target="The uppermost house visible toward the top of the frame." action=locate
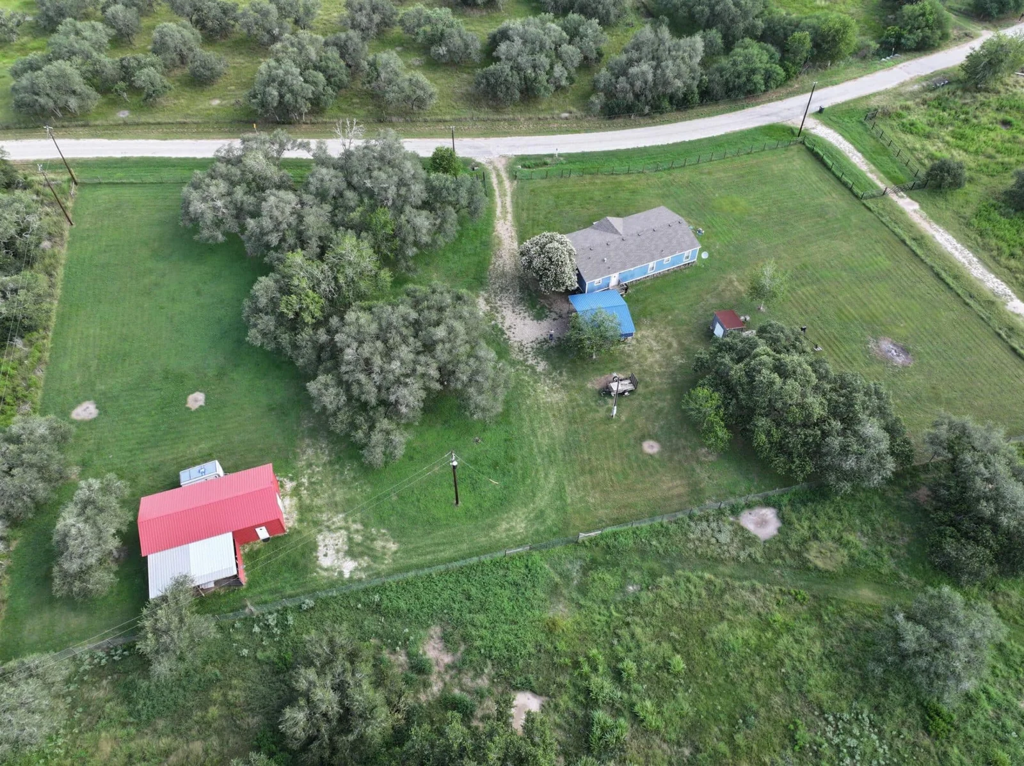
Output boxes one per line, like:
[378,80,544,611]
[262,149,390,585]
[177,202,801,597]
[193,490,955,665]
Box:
[559,208,702,294]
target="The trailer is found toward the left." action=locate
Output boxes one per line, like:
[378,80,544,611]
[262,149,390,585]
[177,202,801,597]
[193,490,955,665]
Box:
[181,462,233,488]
